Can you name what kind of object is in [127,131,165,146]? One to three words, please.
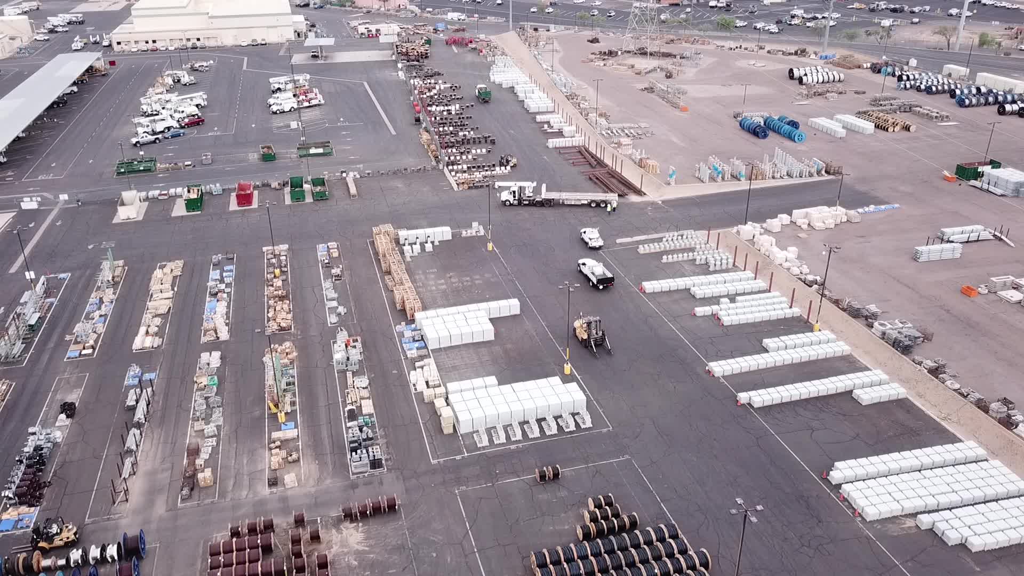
vehicle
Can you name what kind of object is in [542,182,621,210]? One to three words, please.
trailer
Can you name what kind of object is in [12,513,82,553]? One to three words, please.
work vehicle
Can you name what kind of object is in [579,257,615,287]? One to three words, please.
truck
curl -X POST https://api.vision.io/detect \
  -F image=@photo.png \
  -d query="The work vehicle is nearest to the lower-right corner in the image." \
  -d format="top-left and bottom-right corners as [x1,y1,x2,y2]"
[572,312,613,357]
